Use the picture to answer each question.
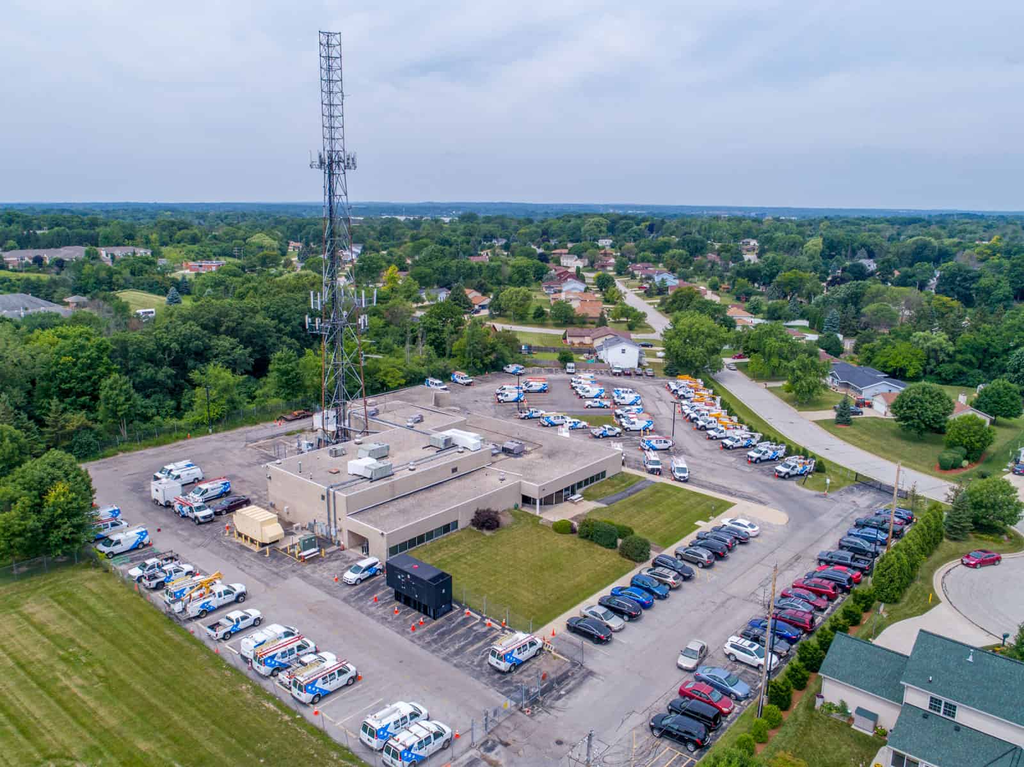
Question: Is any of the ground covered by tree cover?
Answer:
Yes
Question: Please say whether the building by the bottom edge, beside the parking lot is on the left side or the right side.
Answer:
right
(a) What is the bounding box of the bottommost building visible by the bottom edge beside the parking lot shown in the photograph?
[818,631,1024,767]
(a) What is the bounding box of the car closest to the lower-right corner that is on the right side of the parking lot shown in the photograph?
[959,551,1003,570]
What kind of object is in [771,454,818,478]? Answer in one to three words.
truck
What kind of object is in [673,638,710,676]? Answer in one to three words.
car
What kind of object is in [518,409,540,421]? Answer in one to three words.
vehicle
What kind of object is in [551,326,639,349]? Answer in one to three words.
house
